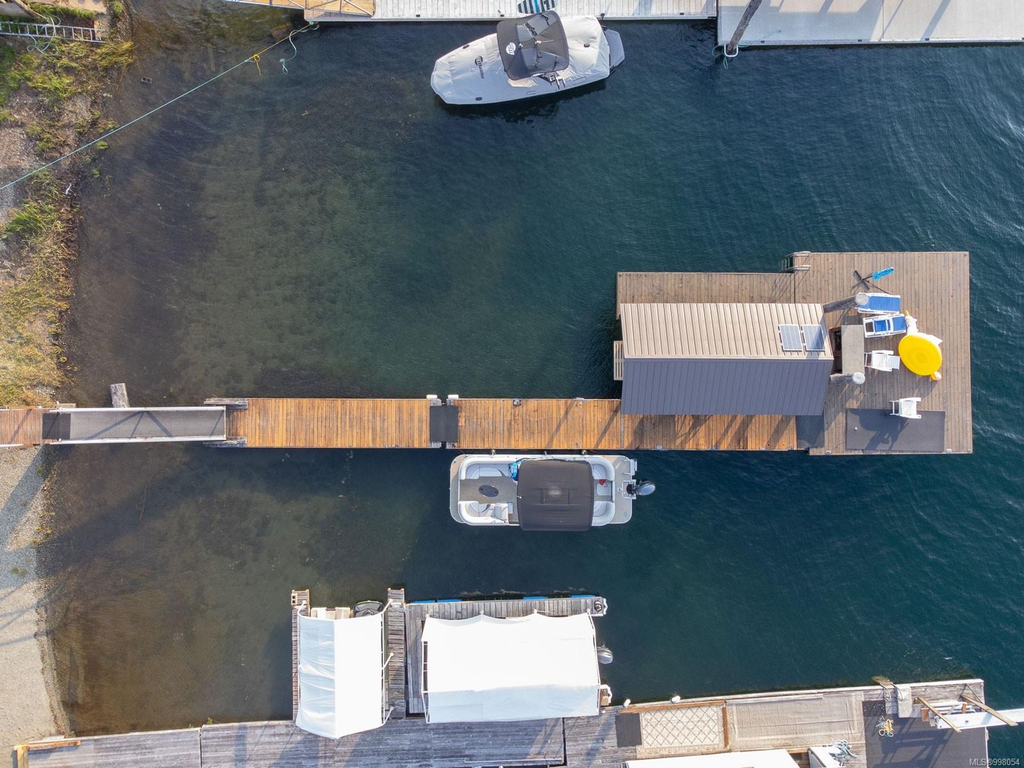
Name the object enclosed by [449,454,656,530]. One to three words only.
boat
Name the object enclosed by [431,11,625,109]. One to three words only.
boat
